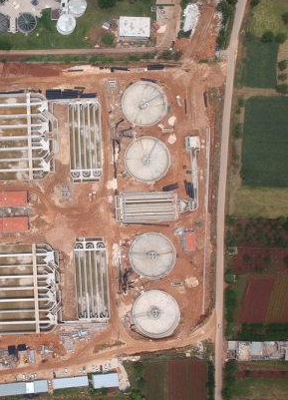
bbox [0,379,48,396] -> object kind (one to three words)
building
